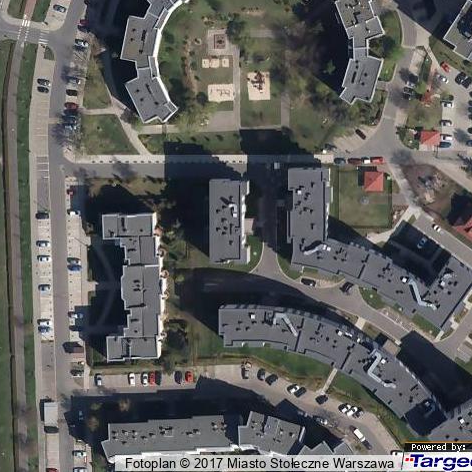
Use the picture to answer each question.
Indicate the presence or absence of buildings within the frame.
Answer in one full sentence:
Yes, there's a building down there.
